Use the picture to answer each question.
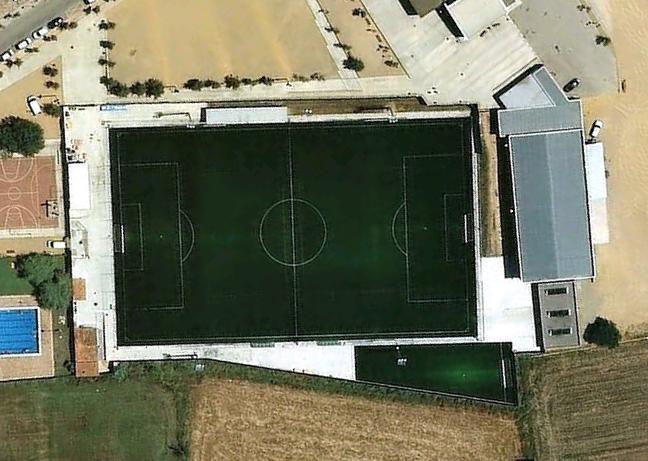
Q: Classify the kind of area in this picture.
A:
sports ground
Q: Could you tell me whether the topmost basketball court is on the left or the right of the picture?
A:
left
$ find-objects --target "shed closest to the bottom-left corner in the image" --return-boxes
[75,325,98,377]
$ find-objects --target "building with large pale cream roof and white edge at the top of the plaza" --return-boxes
[444,0,508,39]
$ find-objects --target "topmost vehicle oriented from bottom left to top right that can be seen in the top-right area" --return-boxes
[564,79,580,92]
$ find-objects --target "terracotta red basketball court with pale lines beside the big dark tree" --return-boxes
[0,156,61,229]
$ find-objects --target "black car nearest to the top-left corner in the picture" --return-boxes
[47,17,63,30]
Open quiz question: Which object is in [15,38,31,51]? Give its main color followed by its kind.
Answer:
white vehicle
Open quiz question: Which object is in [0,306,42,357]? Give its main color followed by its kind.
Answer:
blue swimming pool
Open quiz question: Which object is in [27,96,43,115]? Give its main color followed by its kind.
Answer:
white vehicle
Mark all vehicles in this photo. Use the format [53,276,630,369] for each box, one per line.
[32,27,49,40]
[47,17,63,30]
[564,79,580,92]
[15,38,31,51]
[27,96,43,115]
[48,240,66,249]
[591,121,602,137]
[0,49,14,62]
